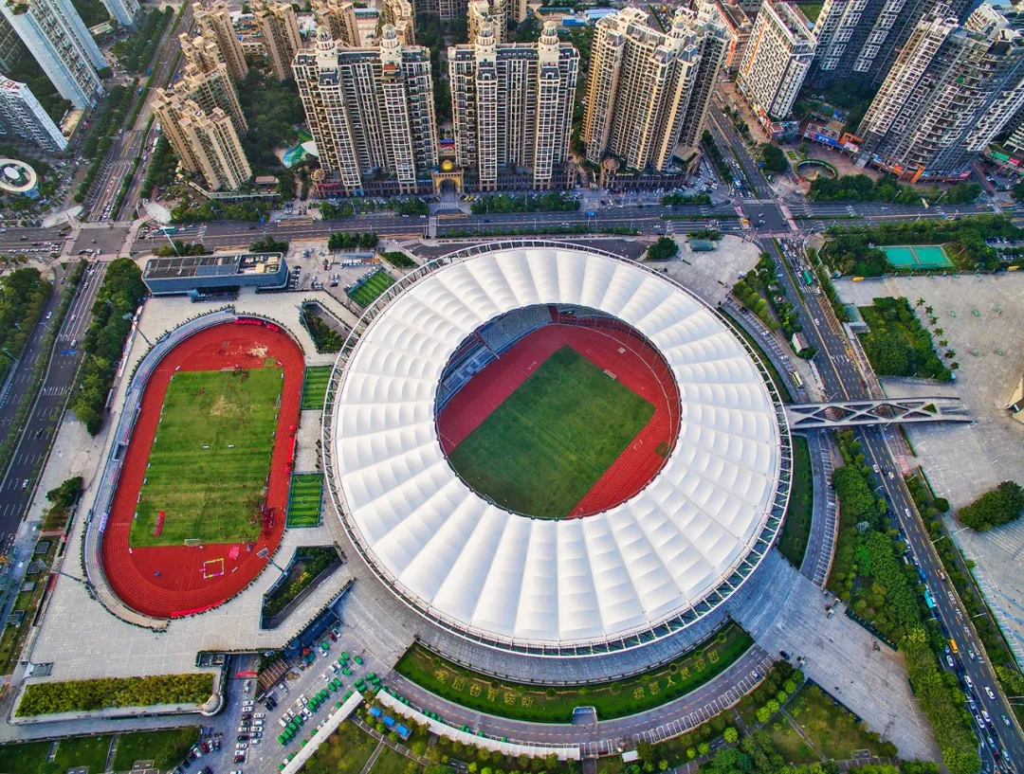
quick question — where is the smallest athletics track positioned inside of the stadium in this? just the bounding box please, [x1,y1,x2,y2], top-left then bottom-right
[434,318,681,519]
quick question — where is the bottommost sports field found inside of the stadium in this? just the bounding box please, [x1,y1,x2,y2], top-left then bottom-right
[448,347,671,518]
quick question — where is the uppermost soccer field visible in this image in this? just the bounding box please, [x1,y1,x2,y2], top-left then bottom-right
[344,265,398,308]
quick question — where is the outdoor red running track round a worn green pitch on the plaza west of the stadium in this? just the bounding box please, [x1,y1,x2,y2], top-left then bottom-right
[81,308,302,634]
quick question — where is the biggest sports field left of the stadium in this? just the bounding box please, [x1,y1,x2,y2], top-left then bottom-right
[127,357,283,548]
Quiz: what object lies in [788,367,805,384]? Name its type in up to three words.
vehicle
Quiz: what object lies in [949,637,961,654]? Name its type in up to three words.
vehicle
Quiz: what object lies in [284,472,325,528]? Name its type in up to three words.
soccer field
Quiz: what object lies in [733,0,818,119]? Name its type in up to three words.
building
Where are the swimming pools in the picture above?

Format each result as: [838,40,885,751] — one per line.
[284,134,313,168]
